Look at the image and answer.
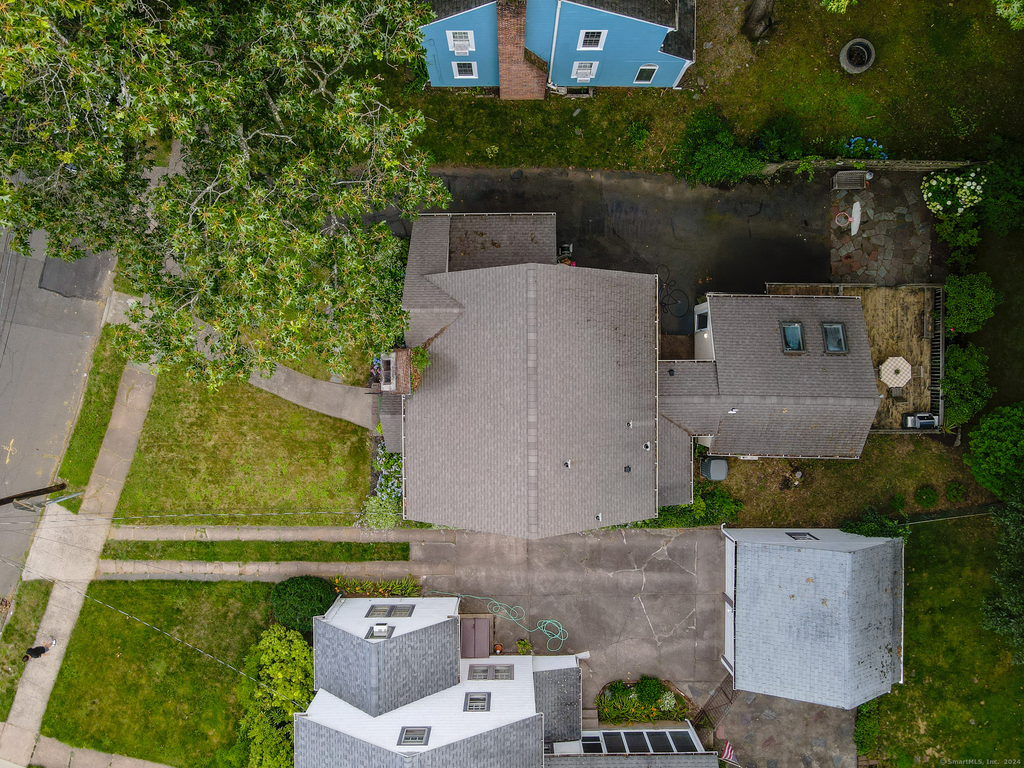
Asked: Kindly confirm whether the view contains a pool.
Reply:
No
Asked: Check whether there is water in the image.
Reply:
No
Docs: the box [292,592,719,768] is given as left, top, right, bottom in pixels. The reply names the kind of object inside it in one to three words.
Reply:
house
